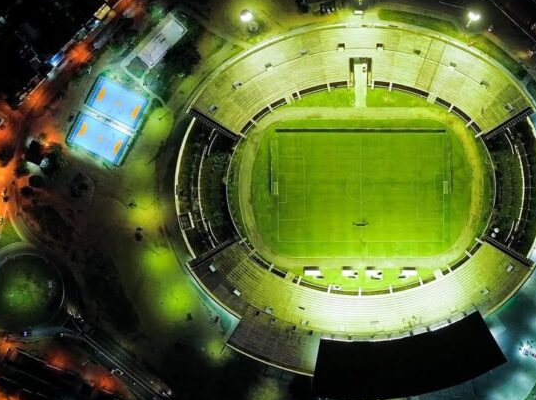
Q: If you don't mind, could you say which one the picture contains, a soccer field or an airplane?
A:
soccer field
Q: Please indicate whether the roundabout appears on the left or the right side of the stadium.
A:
on its left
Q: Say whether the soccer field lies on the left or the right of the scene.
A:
right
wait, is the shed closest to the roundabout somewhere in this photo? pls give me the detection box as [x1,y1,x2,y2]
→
[2,341,70,381]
